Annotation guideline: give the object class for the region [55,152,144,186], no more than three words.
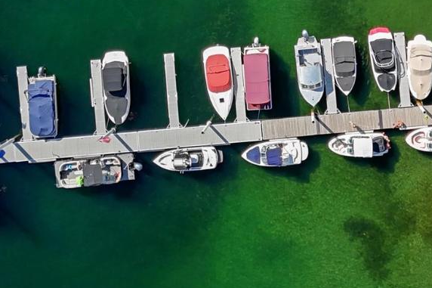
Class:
boat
